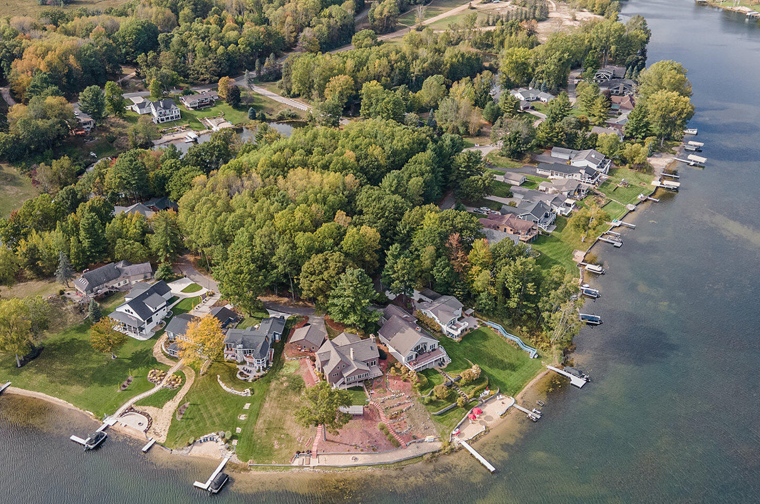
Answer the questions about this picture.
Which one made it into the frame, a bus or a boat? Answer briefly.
boat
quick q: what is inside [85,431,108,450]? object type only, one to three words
boat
